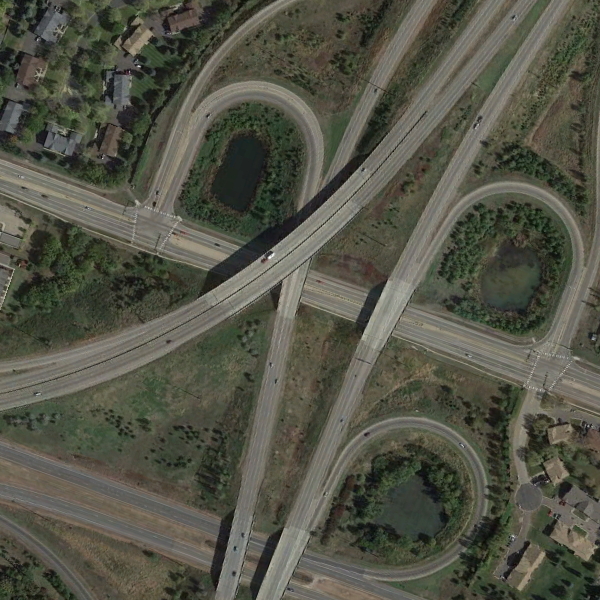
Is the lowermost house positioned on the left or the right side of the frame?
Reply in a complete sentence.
It is on the right.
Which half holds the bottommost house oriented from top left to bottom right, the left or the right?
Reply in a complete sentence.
The bottommost house oriented from top left to bottom right sits on the right side.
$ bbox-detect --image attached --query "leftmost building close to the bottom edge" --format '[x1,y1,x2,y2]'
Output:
[507,543,546,589]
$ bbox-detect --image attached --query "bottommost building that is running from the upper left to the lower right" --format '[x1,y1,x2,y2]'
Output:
[550,519,598,560]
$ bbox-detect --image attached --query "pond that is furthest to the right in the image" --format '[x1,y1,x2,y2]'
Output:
[480,241,544,317]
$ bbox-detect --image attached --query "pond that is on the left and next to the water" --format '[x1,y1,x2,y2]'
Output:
[207,129,271,213]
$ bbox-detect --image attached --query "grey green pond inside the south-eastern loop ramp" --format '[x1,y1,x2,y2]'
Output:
[374,471,448,543]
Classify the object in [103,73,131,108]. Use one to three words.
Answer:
house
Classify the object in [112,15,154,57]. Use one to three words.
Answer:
house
